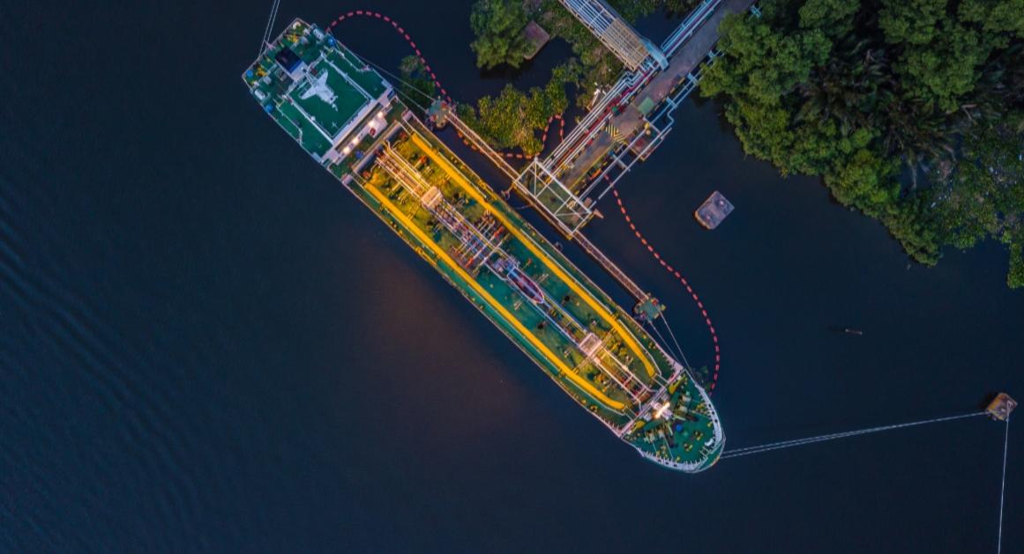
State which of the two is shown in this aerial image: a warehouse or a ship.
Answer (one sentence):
It is a ship that can be seen here.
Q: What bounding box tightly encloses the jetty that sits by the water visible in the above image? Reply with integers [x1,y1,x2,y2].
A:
[556,0,767,195]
